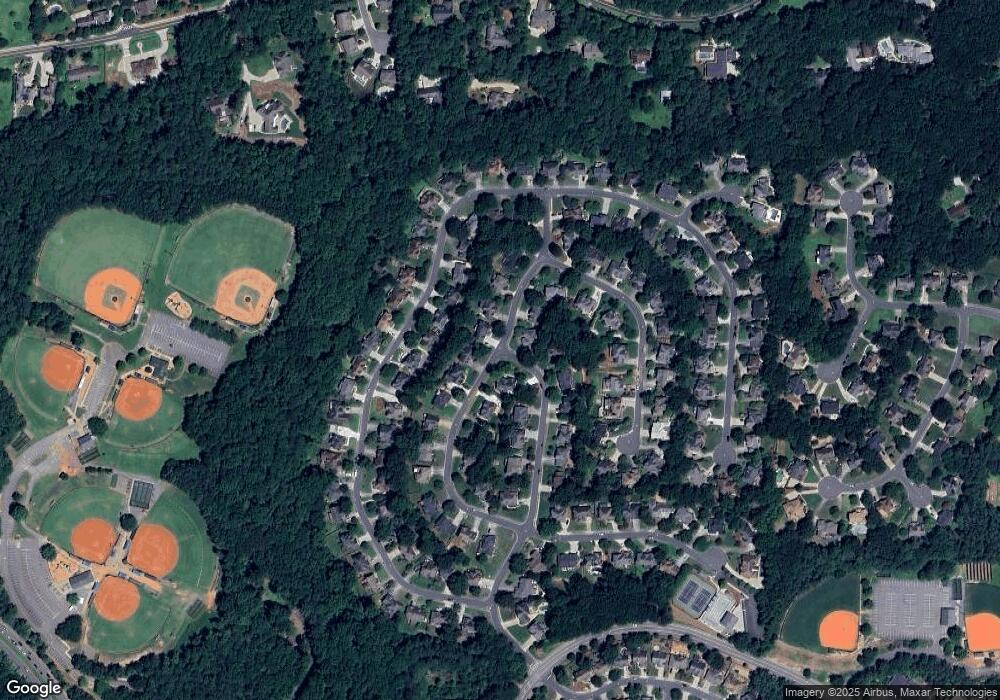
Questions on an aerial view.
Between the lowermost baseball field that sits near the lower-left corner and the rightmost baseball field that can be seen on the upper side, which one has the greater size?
the rightmost baseball field that can be seen on the upper side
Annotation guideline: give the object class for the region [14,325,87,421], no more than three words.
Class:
baseball field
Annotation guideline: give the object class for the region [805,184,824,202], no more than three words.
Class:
house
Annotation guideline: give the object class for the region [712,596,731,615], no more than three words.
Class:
swimming pool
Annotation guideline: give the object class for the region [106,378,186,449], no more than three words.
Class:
baseball field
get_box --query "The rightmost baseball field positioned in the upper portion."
[165,205,295,326]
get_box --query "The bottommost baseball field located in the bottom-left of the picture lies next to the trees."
[90,576,172,660]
